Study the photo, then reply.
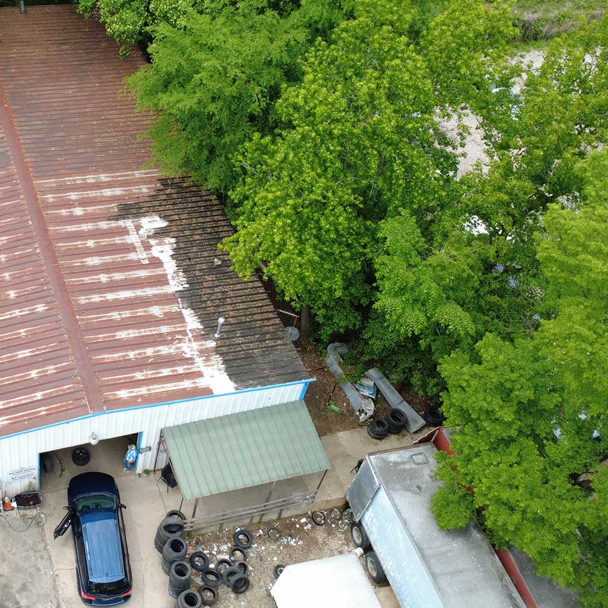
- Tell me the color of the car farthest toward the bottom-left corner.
blue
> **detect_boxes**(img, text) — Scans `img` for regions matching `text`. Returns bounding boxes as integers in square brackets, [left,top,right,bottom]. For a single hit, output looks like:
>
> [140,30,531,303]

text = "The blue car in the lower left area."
[46,471,133,608]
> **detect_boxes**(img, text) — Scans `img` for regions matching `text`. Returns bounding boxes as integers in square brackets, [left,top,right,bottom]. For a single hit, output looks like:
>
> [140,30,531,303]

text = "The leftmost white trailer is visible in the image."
[263,545,381,608]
